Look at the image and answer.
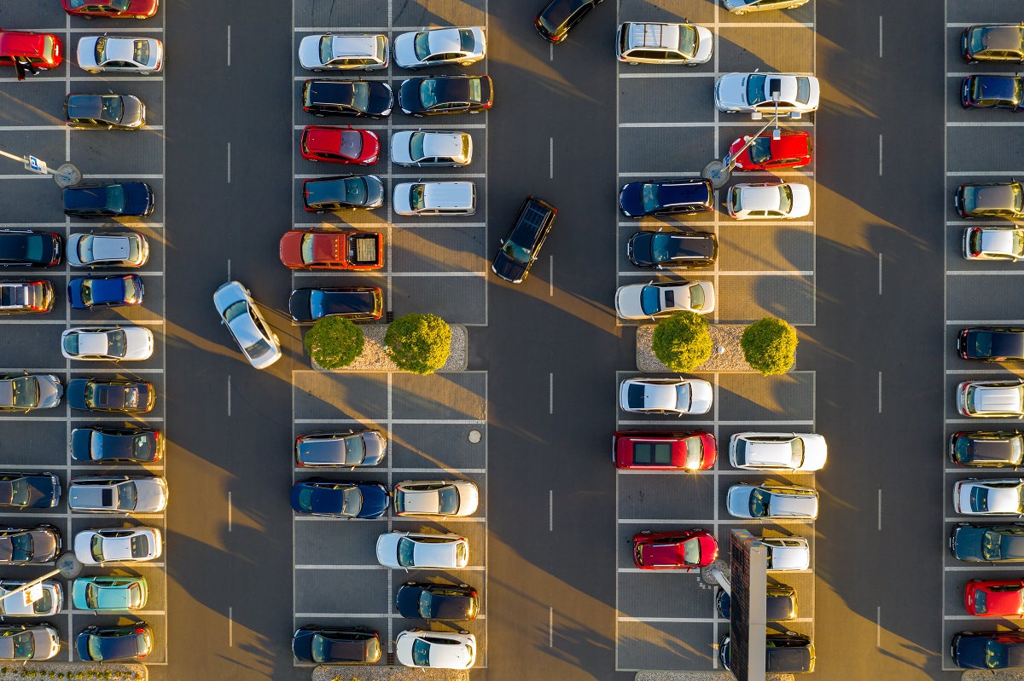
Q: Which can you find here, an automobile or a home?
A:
automobile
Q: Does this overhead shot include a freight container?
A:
No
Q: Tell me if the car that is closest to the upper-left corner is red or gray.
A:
red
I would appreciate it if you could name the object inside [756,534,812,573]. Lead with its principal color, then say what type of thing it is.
white car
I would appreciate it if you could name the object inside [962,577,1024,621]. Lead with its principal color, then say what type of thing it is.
red car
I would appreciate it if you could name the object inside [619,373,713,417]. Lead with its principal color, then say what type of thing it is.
white car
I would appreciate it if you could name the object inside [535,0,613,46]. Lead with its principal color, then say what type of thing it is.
black car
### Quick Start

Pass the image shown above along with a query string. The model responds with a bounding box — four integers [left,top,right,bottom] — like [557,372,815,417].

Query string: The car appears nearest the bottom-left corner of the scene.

[0,614,62,661]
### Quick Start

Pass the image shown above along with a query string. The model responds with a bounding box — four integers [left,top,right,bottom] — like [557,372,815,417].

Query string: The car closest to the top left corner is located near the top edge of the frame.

[0,31,65,84]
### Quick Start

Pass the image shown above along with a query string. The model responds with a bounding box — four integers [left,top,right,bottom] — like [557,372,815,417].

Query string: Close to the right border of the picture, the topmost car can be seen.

[959,24,1024,66]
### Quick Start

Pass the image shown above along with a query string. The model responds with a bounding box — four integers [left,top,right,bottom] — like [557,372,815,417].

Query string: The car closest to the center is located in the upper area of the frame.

[494,197,556,281]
